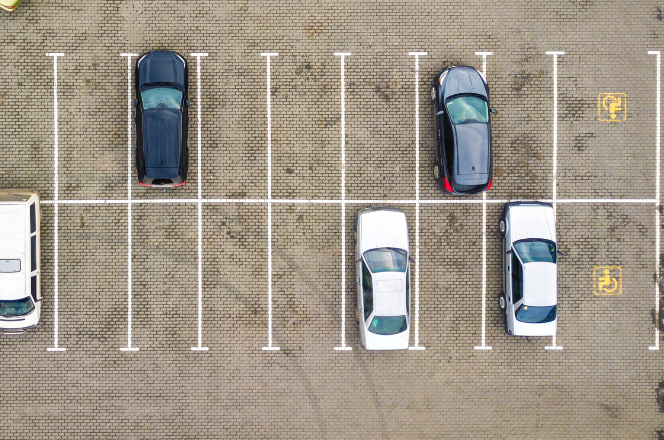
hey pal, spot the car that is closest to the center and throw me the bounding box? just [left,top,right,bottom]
[353,206,416,351]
